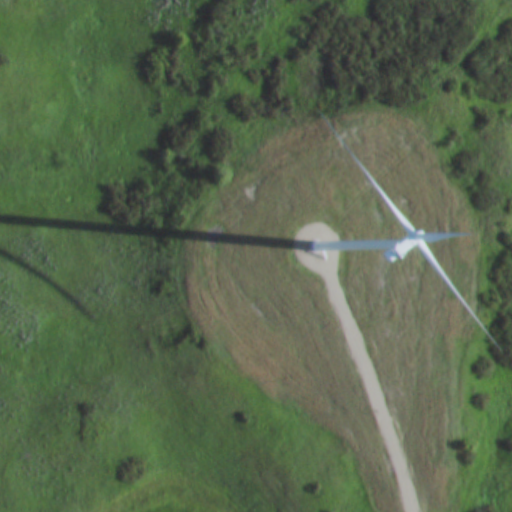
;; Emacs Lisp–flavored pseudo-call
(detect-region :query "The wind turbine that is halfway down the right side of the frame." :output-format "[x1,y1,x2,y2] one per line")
[312,110,500,350]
